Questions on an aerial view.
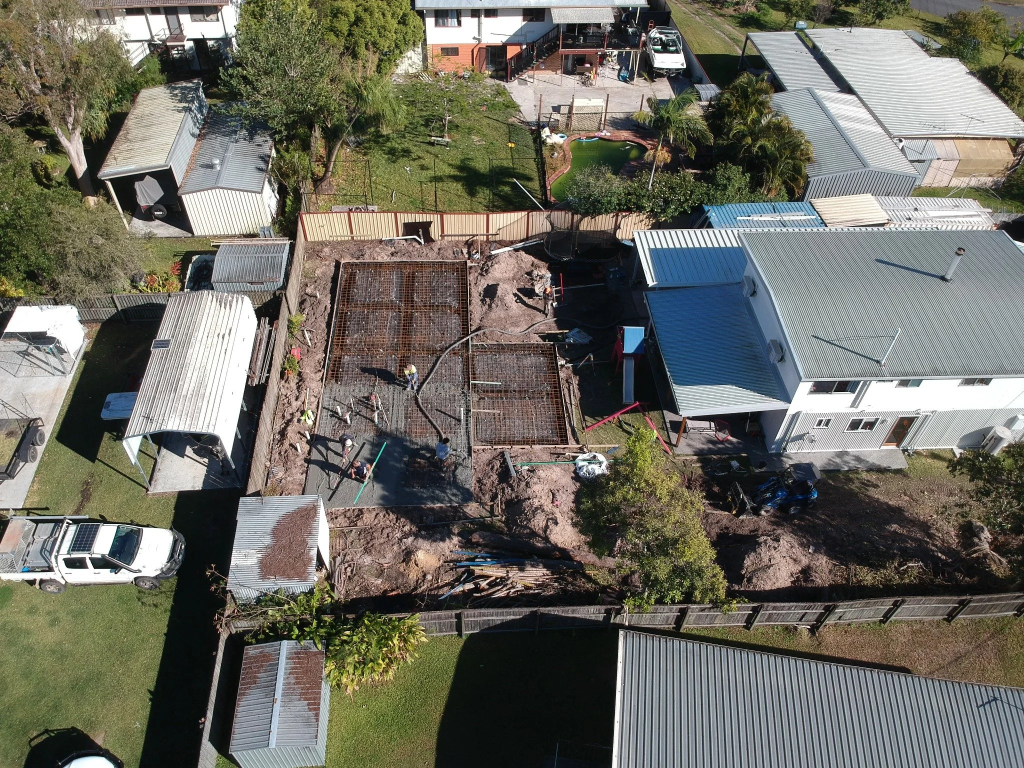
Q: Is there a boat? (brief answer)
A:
Yes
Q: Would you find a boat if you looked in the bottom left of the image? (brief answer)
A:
No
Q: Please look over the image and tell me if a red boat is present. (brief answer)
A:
No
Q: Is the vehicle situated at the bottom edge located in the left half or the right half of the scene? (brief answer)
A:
left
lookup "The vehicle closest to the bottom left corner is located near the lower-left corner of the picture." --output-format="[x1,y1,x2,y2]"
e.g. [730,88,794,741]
[57,732,128,768]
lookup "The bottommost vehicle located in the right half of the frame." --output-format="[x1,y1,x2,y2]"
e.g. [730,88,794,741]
[719,459,836,516]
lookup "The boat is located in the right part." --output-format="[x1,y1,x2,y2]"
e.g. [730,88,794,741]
[650,22,683,75]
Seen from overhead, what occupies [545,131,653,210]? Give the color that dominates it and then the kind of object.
green swimming pool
